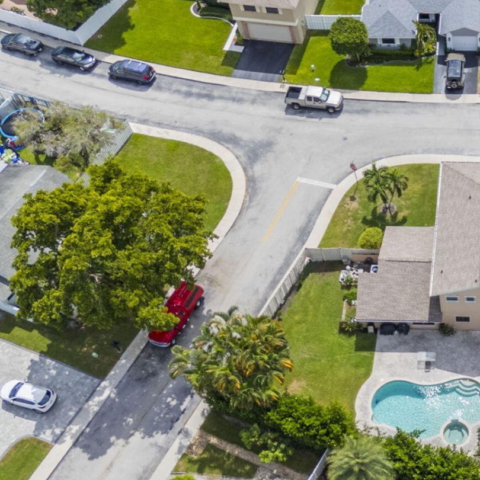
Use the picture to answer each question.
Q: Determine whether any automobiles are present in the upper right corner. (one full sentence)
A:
Yes, an automobile can be seen in the upper right corner.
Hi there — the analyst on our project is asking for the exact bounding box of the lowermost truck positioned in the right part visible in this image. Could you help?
[283,86,344,113]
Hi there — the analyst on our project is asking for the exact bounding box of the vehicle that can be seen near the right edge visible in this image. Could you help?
[443,57,467,90]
